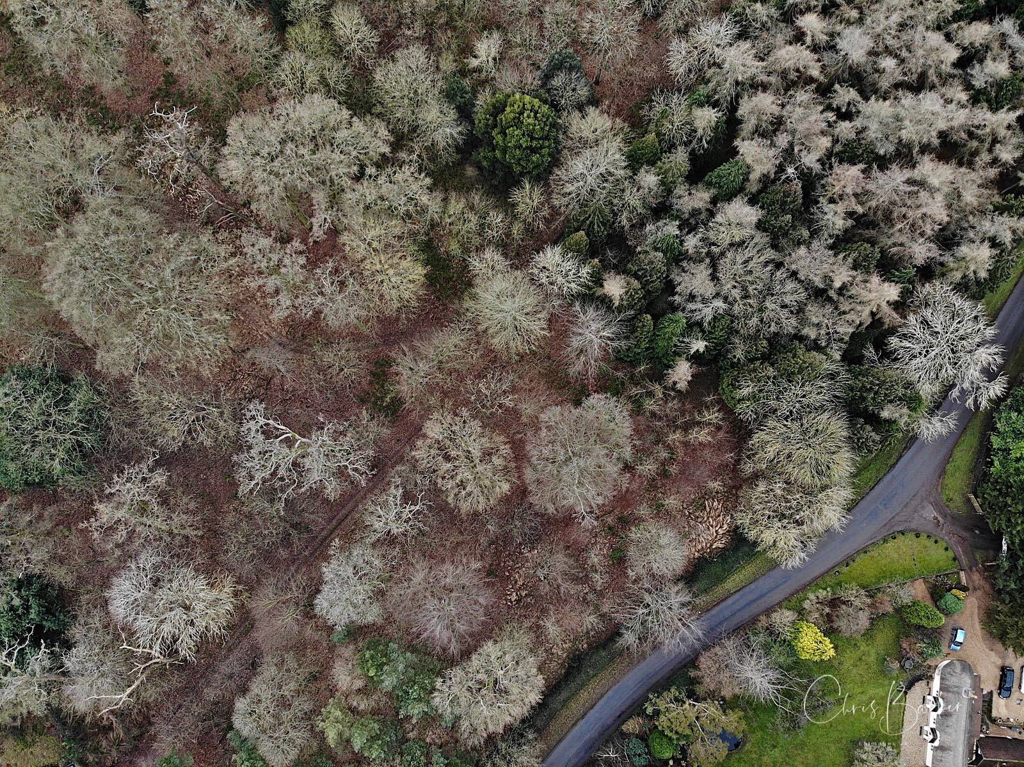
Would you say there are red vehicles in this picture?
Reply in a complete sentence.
No, no red vehicle can be seen from above.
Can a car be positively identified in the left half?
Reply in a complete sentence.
No, looking in the left half, there is no car.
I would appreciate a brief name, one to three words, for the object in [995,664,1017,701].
car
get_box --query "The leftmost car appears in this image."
[947,626,967,653]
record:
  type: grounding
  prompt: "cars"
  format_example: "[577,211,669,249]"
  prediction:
[947,626,967,653]
[995,664,1017,701]
[1019,661,1024,693]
